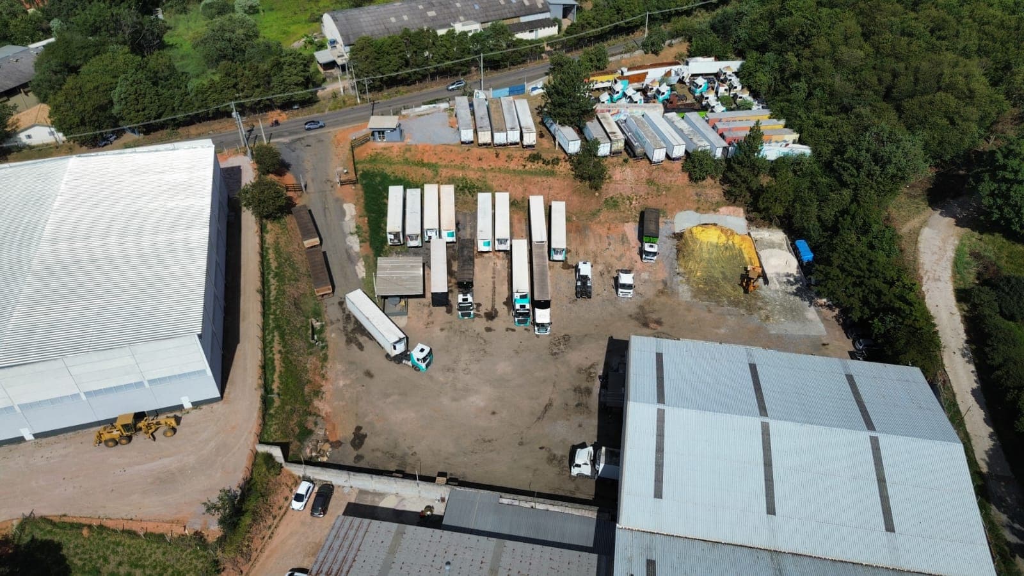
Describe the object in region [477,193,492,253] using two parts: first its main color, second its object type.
white trailer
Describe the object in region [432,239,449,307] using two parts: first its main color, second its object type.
white trailer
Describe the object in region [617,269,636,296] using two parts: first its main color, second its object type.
white vehicle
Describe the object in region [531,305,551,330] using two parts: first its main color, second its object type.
white vehicle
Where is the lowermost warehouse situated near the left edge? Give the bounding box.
[0,134,230,441]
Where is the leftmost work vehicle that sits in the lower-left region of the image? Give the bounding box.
[96,415,180,447]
